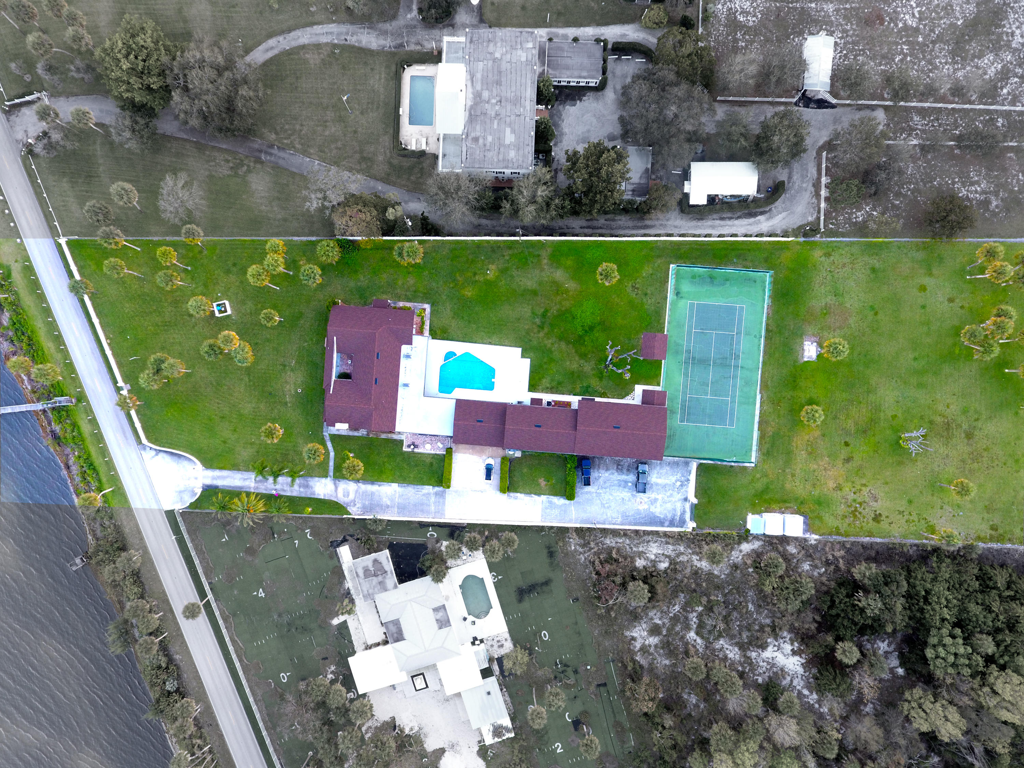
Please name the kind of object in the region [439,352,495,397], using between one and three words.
swimming pool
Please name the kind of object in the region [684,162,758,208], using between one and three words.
shed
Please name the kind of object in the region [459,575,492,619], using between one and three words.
swimming pool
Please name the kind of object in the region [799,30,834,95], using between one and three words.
barn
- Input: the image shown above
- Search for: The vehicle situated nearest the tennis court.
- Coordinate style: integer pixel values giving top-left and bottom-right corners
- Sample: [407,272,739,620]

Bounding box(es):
[636,462,650,494]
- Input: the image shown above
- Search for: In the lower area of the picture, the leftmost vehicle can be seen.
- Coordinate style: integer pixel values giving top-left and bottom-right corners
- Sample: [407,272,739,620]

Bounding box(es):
[483,458,495,482]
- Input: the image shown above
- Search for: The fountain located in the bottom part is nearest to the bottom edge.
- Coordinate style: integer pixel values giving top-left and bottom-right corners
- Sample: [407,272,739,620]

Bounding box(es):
[411,672,429,692]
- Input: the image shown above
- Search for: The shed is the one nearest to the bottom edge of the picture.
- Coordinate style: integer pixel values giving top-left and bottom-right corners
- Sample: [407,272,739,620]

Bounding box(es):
[461,674,515,746]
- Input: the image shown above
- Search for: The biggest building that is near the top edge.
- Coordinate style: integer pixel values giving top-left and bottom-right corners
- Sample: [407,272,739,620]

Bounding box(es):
[436,28,539,189]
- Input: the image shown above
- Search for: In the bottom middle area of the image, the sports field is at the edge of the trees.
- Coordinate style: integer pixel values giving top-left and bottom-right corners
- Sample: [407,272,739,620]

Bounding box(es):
[198,521,632,768]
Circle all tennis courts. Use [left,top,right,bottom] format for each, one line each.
[660,264,774,467]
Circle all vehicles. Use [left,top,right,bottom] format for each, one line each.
[636,462,650,494]
[581,459,592,487]
[483,458,495,482]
